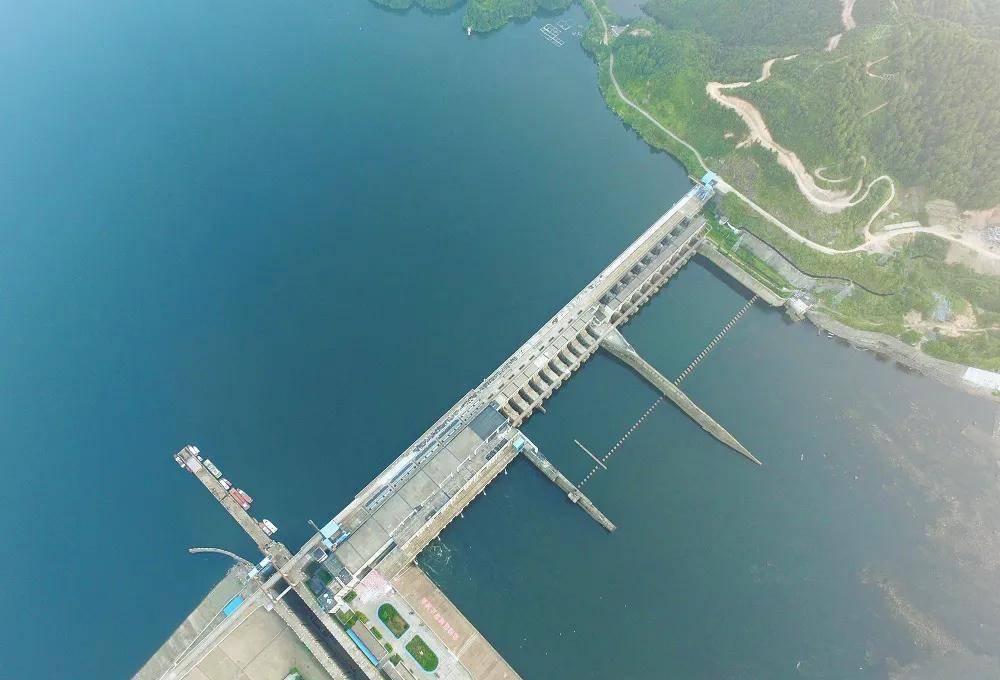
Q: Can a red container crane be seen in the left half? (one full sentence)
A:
No, there is no red container crane in the left half.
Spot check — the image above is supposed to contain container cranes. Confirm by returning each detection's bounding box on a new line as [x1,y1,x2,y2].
[309,519,350,549]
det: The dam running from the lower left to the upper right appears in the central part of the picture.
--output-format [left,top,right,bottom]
[260,176,715,592]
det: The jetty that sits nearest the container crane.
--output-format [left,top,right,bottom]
[177,445,271,545]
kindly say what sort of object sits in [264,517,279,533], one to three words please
boat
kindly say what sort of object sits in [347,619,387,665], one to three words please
house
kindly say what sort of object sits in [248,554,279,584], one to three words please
house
